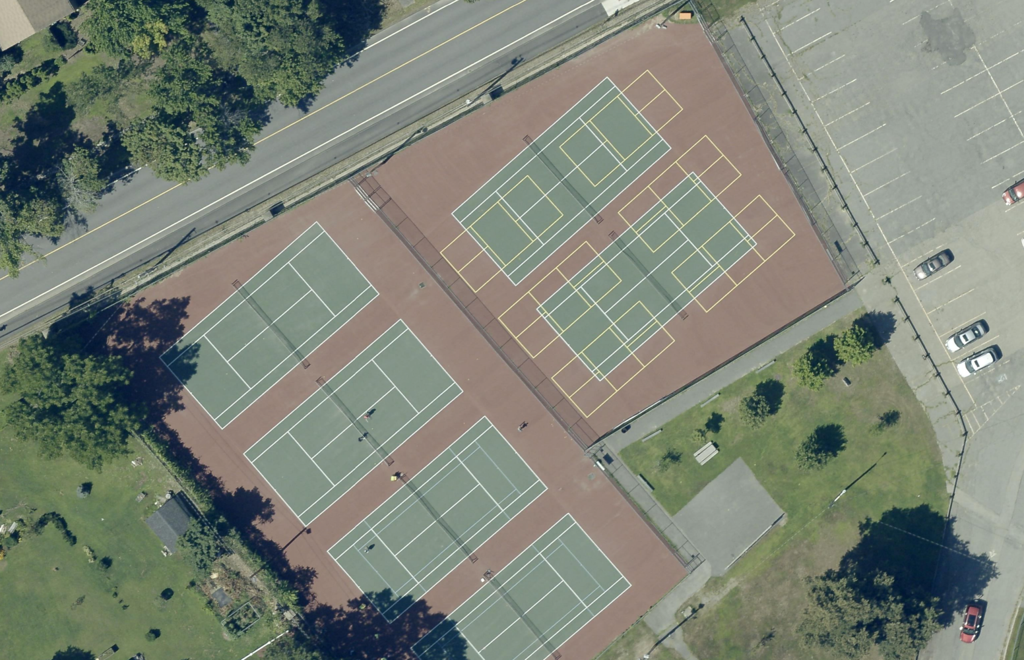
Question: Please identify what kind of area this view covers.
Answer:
sports ground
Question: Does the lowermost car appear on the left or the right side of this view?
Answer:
right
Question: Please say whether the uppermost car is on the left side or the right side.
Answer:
right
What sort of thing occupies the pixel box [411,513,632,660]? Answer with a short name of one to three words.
tennis court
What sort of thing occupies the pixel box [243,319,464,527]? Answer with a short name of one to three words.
tennis court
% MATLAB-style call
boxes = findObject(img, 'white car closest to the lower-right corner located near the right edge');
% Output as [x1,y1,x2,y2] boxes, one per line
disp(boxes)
[958,346,999,376]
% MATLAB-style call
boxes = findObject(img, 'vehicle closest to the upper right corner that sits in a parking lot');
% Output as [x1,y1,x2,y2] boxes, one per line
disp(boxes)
[1001,178,1024,202]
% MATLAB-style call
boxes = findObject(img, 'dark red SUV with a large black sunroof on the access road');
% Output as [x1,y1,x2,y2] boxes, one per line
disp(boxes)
[960,603,981,644]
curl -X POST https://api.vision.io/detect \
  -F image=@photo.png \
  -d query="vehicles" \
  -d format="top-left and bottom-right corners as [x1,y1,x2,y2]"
[947,320,987,350]
[958,346,999,376]
[913,249,954,280]
[1001,178,1024,202]
[960,603,981,644]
